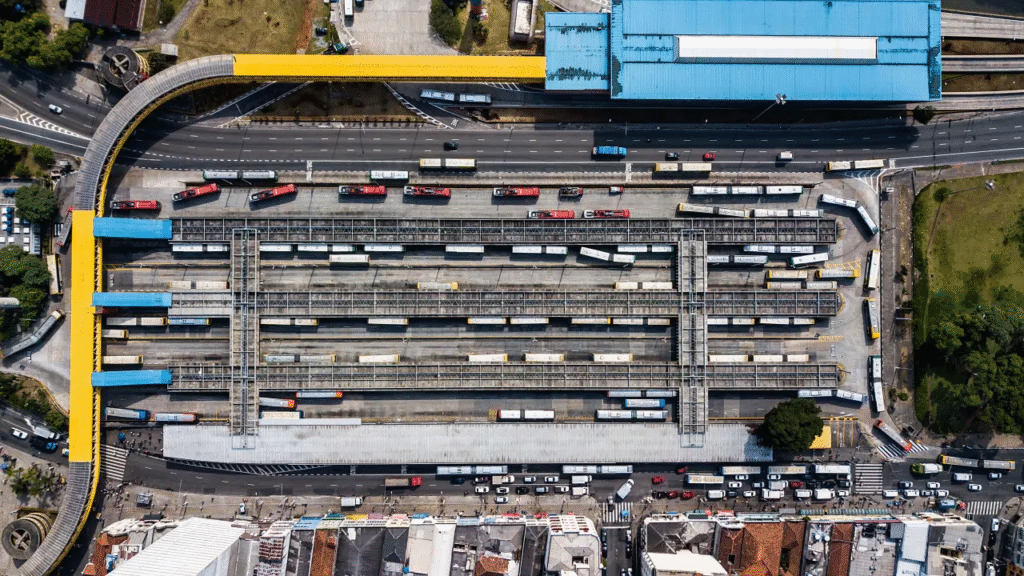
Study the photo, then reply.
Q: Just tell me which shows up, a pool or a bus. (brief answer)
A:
bus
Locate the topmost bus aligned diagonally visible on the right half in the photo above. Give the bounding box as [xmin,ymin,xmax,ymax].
[816,193,879,235]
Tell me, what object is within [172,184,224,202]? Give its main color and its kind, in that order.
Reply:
red vehicle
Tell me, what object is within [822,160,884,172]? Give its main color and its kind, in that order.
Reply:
white vehicle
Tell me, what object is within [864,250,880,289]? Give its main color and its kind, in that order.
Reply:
white vehicle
